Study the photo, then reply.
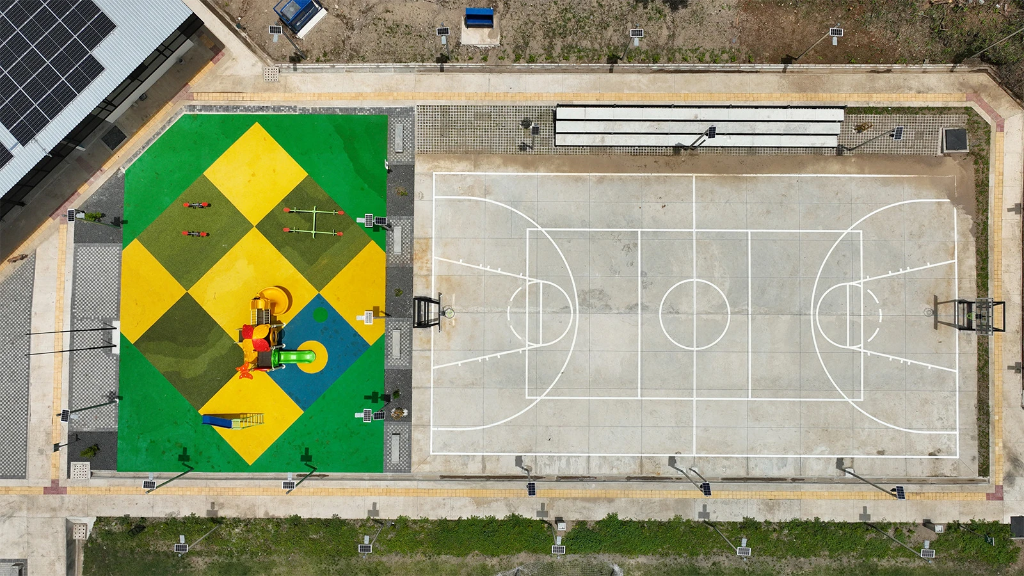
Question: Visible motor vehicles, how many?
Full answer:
I count no motor vehicles.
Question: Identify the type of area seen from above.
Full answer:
It's a sports ground.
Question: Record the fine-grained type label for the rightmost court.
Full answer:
Looking closely, the rightmost court is a basketball court.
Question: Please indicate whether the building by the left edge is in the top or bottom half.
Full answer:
The building by the left edge is in the top half of the image.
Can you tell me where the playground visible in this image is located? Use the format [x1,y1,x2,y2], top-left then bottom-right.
[117,114,388,473]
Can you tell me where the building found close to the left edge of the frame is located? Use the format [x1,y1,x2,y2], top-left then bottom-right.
[0,0,205,232]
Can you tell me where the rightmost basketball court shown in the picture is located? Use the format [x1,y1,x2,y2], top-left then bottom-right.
[412,154,978,478]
